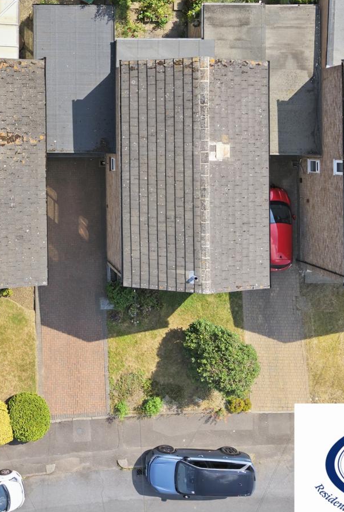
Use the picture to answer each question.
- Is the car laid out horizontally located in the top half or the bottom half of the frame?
bottom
